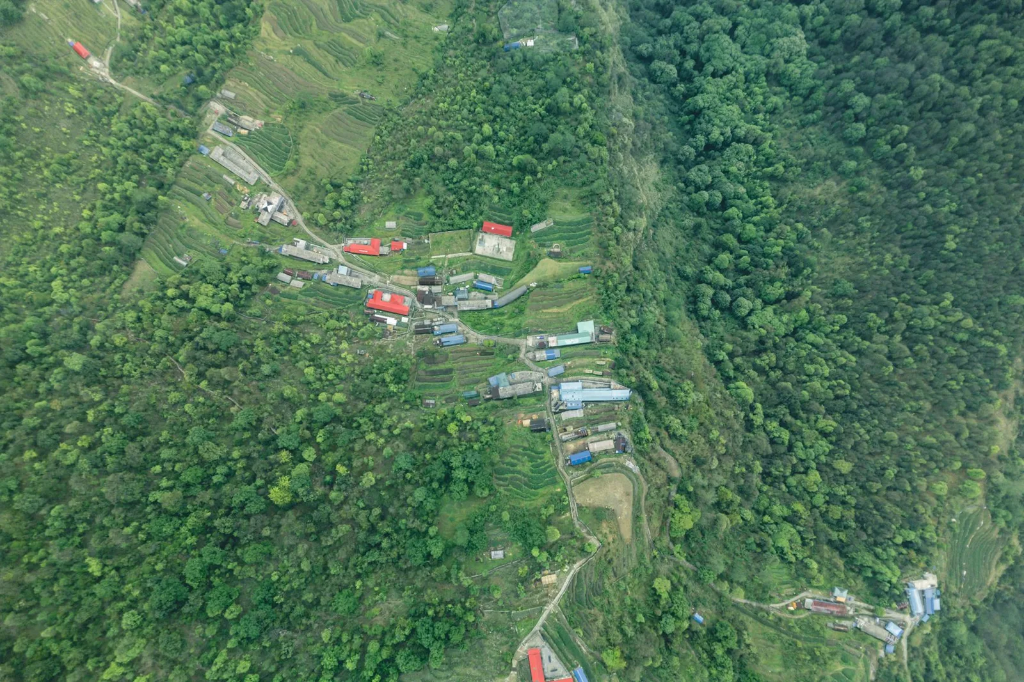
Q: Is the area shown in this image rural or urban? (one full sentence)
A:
The land in this view is best described as rural.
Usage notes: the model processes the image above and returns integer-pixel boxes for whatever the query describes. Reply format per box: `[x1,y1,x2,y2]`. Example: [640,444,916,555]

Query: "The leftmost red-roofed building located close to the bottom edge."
[528,645,573,682]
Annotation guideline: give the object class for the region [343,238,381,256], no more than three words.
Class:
house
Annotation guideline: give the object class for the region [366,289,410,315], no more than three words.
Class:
building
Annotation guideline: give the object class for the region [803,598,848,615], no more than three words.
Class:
house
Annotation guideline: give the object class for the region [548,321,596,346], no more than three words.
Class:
building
